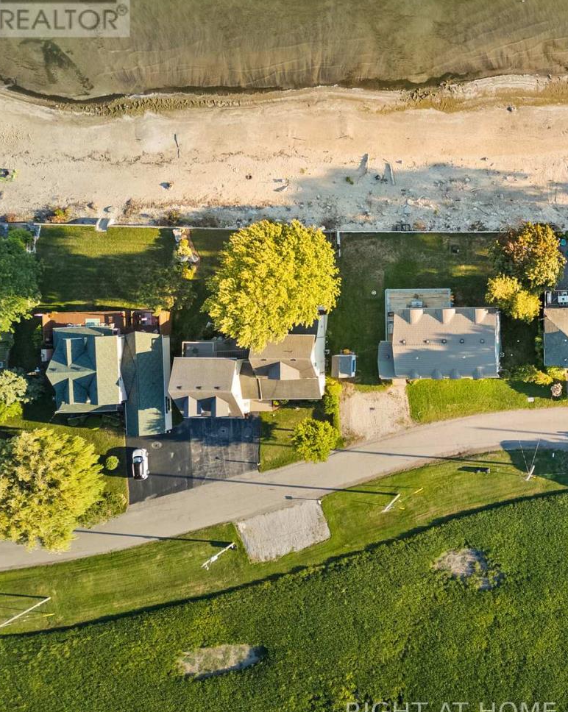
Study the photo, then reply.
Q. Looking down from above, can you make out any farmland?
Yes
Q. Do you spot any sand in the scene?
Yes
